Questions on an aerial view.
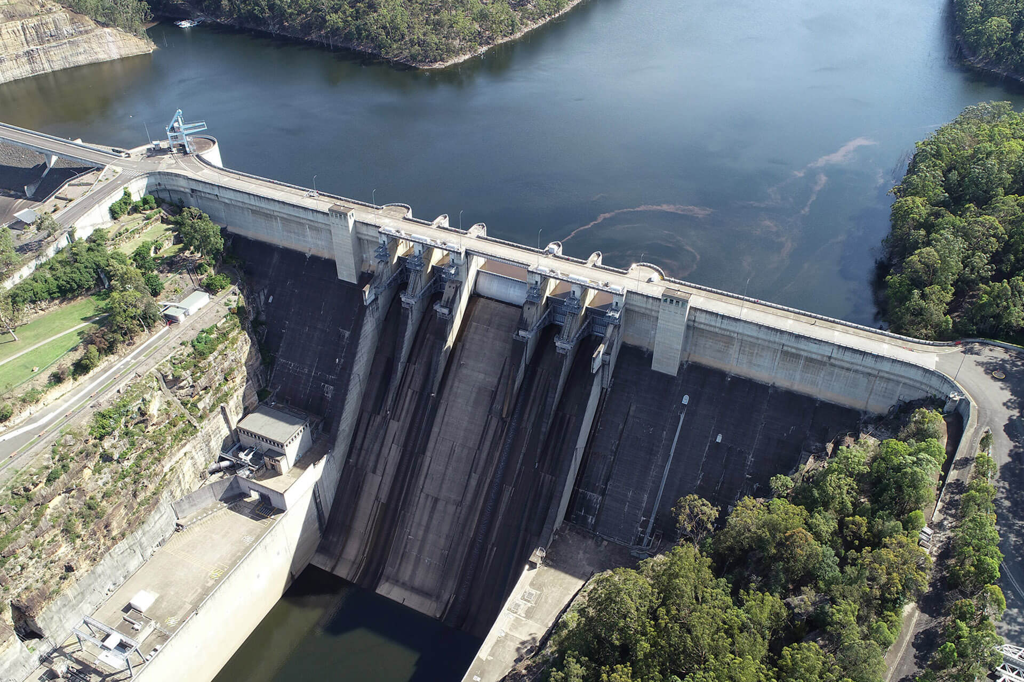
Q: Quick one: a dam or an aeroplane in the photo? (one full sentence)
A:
Looking from above, you can make out a dam.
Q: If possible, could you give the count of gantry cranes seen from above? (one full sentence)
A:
The count of gantry cranes comes to 2.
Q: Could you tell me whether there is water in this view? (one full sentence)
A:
Yes, some water is visible.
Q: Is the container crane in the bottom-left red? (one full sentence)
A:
No, the container crane in the bottom-left is white.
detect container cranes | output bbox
[162,105,218,155]
[67,611,143,674]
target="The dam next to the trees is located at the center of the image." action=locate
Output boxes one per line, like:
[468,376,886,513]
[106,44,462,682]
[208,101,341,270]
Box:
[114,134,980,635]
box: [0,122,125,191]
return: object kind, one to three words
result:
bridge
